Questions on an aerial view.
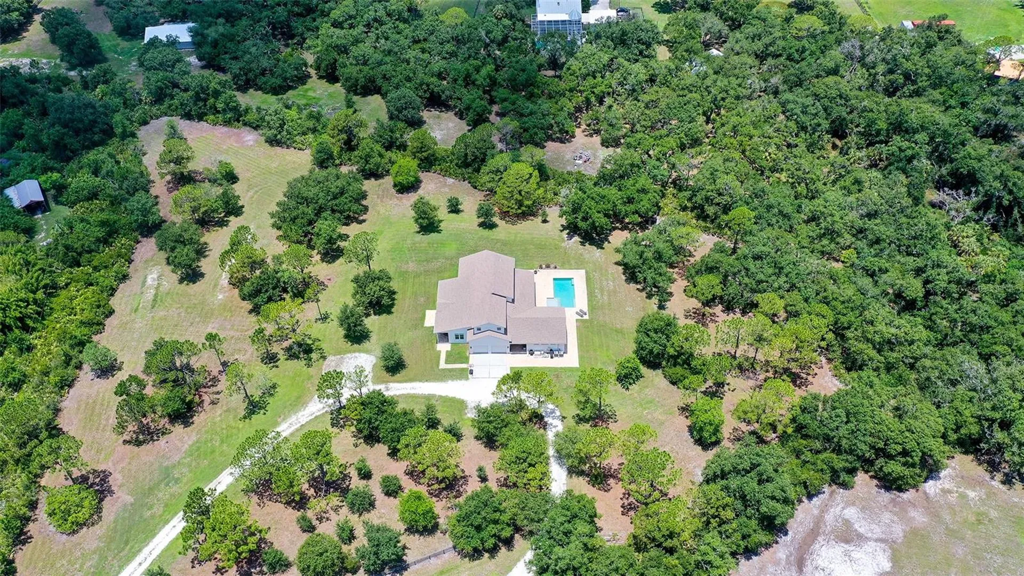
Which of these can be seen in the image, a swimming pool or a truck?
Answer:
swimming pool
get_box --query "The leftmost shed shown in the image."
[2,180,52,223]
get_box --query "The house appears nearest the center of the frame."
[434,251,568,354]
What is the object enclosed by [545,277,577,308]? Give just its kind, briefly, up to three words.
swimming pool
